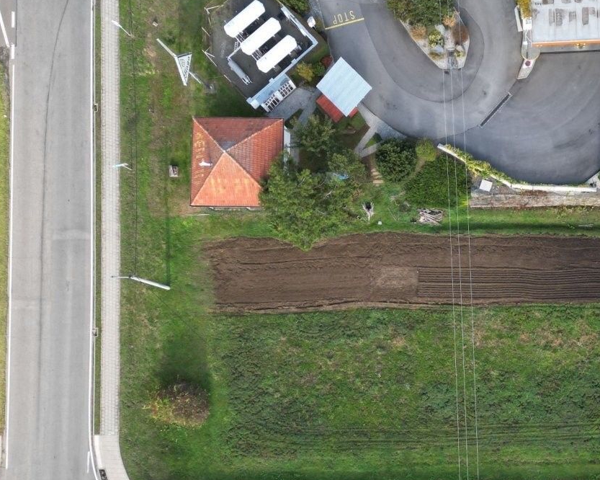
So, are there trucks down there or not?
No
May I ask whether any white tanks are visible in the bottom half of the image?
No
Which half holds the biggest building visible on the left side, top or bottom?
top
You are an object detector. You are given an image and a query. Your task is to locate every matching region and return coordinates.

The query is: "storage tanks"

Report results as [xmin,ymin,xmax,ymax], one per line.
[240,19,284,52]
[256,36,299,69]
[223,1,267,36]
